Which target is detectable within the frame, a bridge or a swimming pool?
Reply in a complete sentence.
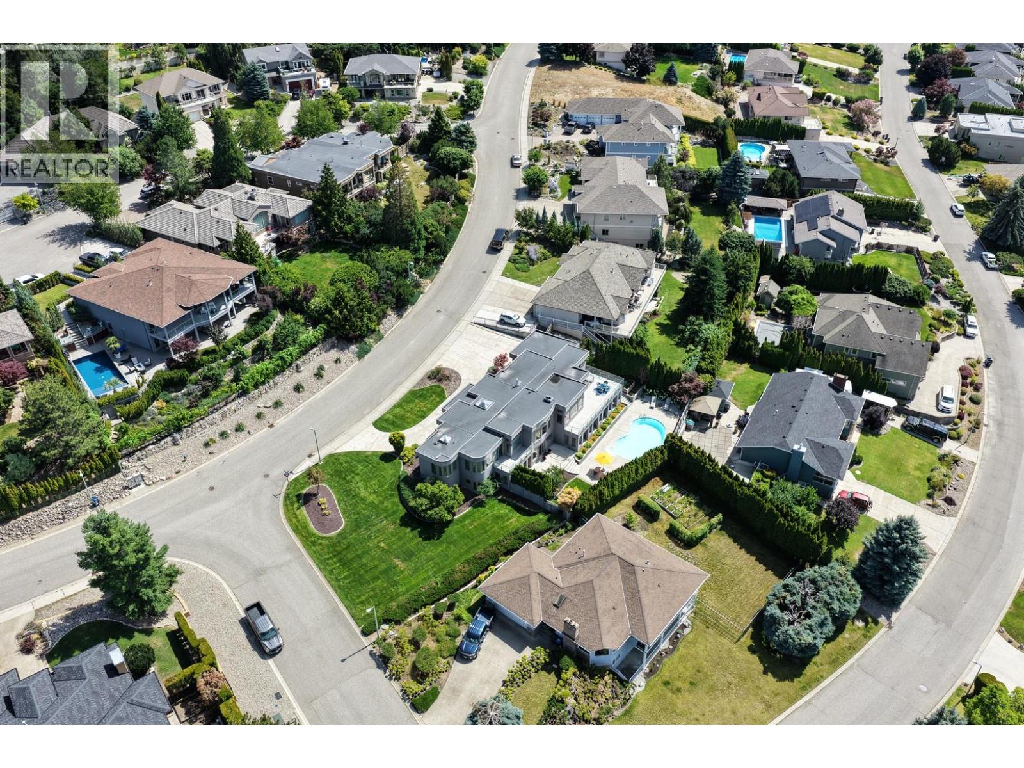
It is a swimming pool that can be seen here.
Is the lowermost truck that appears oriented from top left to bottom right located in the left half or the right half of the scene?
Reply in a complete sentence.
The lowermost truck that appears oriented from top left to bottom right is on the left side of the image.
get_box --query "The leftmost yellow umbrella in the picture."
[594,452,615,472]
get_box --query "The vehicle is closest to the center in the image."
[495,307,529,330]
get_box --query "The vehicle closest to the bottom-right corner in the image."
[834,489,877,514]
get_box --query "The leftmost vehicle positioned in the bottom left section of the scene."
[240,600,282,653]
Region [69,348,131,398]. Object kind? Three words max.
swimming pool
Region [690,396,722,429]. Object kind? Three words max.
gazebo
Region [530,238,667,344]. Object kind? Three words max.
house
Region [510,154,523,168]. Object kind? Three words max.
vehicle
